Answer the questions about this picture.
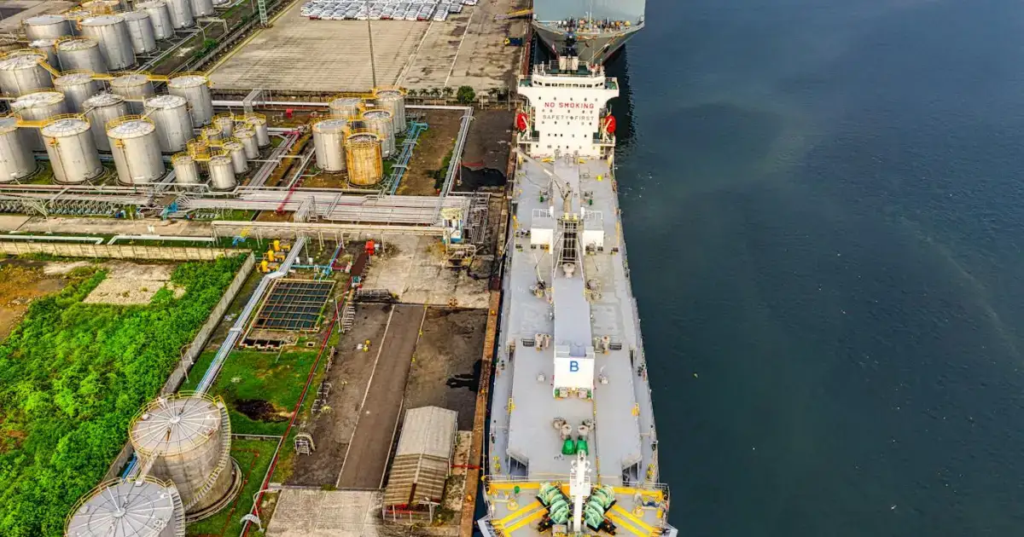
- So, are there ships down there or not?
Yes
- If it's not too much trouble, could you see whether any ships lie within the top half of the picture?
Yes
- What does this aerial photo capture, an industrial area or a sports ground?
industrial area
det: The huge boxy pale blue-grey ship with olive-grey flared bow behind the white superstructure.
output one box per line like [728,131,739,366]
[517,0,646,109]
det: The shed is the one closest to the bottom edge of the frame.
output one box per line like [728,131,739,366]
[382,405,457,527]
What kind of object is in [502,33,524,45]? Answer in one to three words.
vehicle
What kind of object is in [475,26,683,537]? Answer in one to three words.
ship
